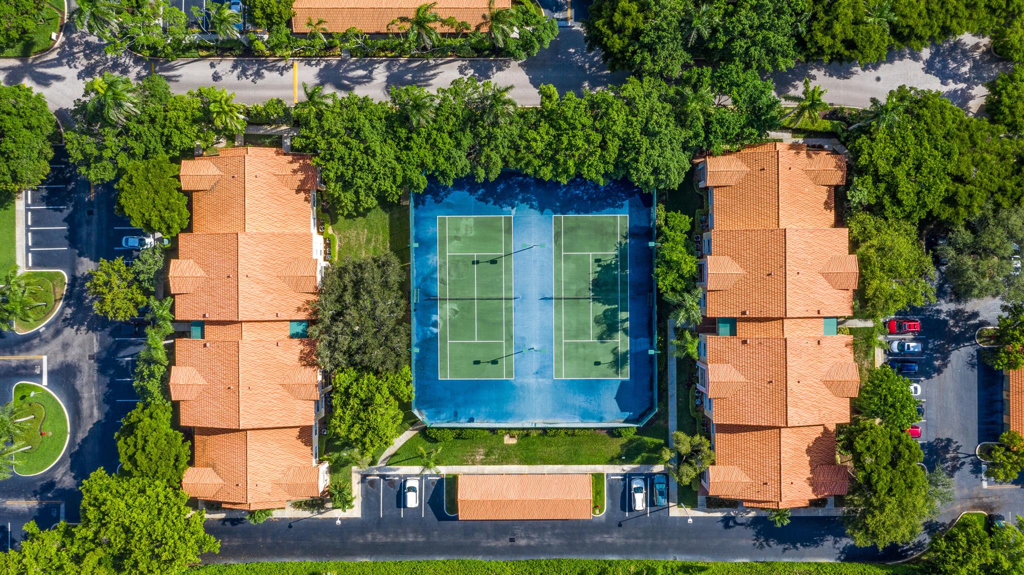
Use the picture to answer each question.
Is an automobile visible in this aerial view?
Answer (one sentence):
Yes, the photo shows an automobile.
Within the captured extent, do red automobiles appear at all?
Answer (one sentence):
Yes, there's a red automobile here.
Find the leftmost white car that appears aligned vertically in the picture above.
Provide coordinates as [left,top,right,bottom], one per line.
[404,477,419,508]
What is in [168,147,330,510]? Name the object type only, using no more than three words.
building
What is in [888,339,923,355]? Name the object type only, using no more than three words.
car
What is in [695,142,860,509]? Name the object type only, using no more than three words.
building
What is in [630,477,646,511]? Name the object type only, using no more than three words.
car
